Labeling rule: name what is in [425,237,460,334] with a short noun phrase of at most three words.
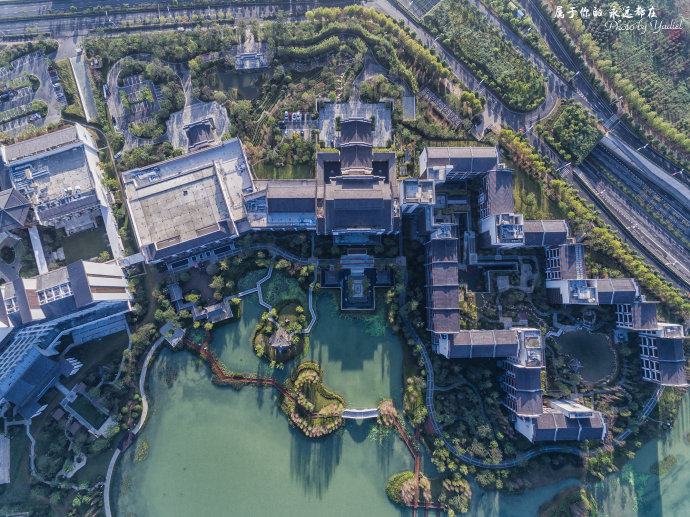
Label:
building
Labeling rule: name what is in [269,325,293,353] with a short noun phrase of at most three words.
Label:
building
